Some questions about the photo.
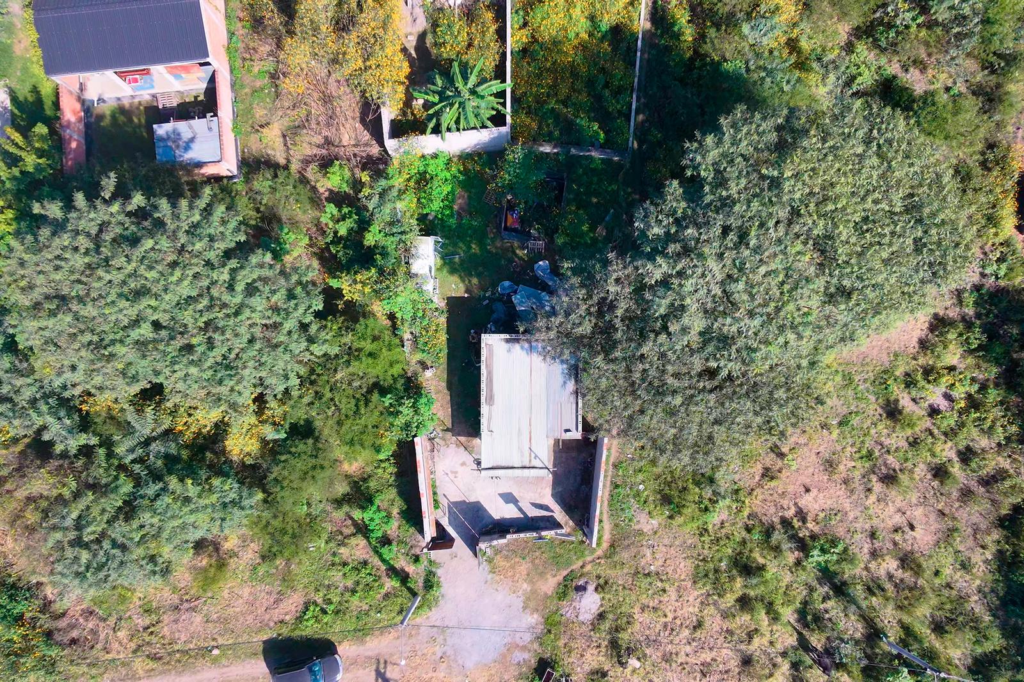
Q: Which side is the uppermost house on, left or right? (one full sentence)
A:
It is on the left.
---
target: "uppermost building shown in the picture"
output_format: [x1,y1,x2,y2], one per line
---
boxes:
[33,0,232,105]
